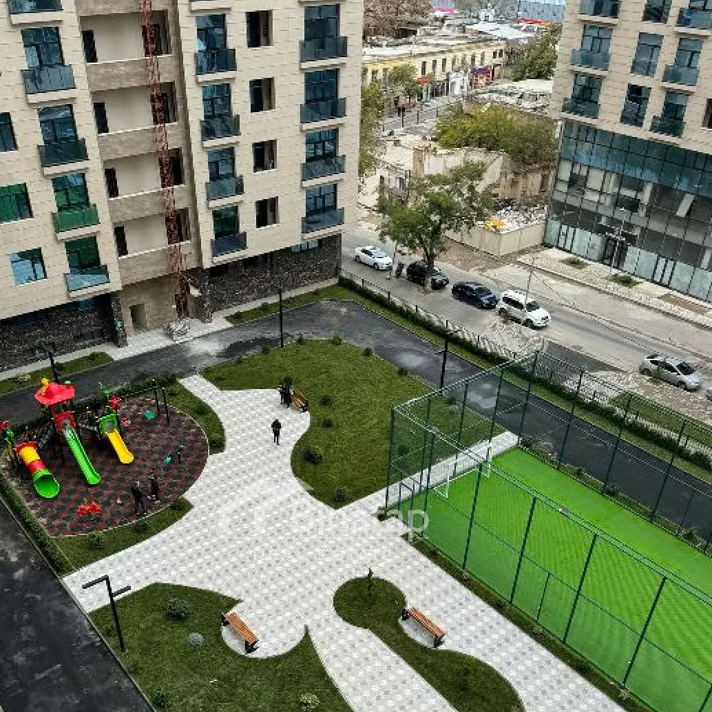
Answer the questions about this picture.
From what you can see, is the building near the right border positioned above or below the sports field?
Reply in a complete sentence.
The position of the building near the right border is above the sports field.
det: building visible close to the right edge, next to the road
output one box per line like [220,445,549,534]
[547,0,712,301]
